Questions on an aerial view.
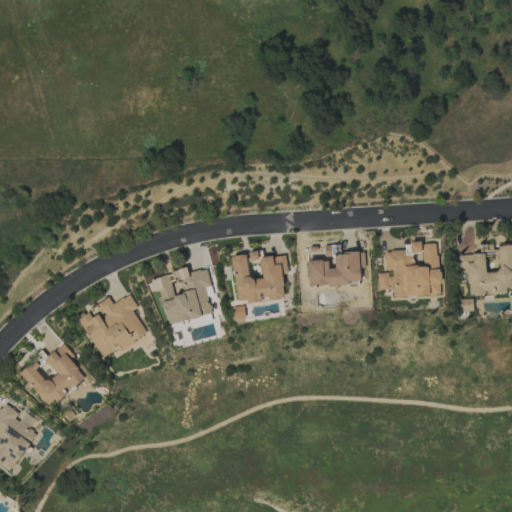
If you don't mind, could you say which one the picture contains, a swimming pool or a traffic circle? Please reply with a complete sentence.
The one in the frame is a swimming pool.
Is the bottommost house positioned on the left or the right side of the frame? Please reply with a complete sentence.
You can find the bottommost house on the left side of the picture.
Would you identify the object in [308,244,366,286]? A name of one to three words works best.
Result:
house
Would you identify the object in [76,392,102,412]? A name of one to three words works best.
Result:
swimming pool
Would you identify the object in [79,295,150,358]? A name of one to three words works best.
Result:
house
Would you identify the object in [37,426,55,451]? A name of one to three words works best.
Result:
swimming pool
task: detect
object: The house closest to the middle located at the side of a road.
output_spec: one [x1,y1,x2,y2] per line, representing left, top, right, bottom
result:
[232,249,288,302]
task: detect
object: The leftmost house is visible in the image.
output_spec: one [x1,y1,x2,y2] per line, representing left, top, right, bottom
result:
[0,396,41,472]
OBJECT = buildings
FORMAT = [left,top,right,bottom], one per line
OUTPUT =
[234,304,246,322]
[20,344,86,400]
[308,244,366,286]
[0,396,41,472]
[79,295,150,358]
[232,249,288,302]
[378,242,443,301]
[461,243,512,302]
[161,268,214,324]
[460,298,474,318]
